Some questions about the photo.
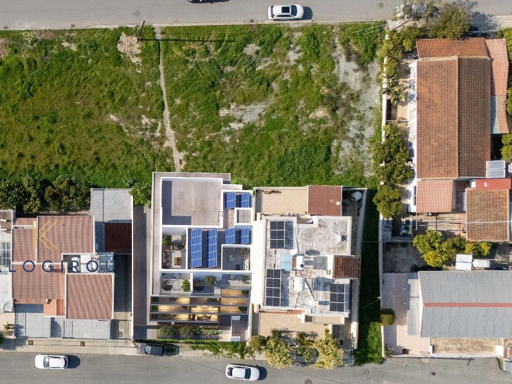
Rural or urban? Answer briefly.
urban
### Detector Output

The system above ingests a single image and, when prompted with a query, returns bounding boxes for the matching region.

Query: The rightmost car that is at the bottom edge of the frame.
[225,364,260,382]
